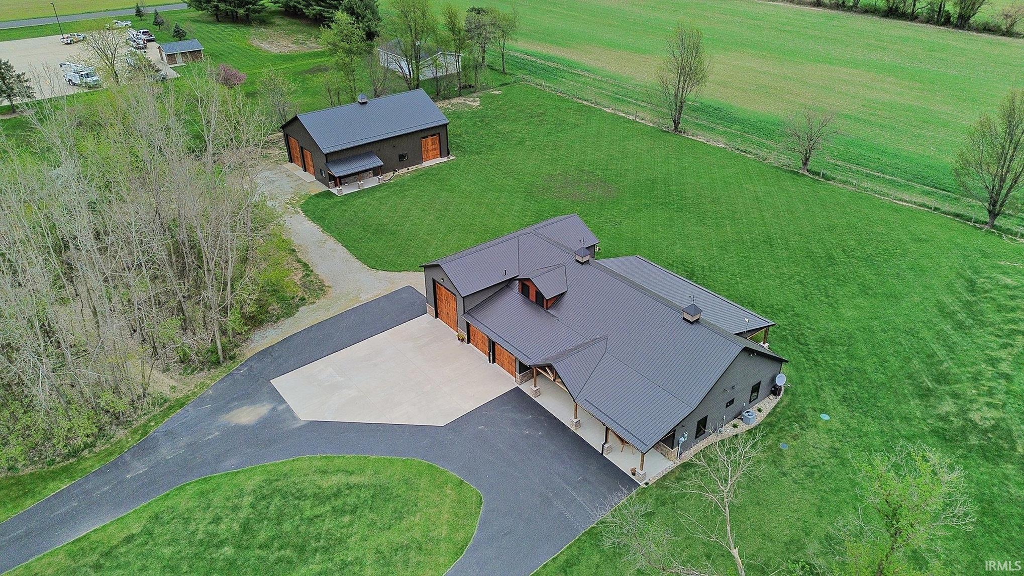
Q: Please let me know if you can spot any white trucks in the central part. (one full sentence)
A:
No, I see no white truck in the central part.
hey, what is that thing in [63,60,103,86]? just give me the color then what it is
white truck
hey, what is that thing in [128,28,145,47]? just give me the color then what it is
white vehicle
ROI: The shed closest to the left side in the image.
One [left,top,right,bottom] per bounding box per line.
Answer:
[158,40,204,64]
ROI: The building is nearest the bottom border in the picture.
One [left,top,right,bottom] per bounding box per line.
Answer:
[419,214,789,484]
